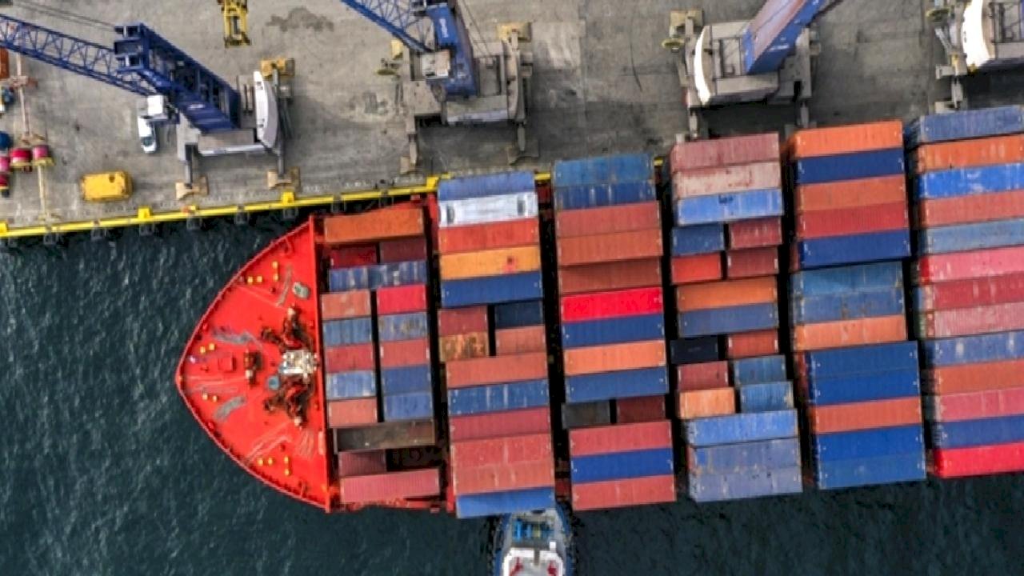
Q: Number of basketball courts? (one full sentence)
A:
I count no basketball courts.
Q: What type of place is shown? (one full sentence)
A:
The area seen from above is a port.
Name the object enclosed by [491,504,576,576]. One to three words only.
boat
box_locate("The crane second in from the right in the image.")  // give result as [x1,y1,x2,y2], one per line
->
[662,0,858,144]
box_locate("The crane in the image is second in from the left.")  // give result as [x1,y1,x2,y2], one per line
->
[341,0,536,172]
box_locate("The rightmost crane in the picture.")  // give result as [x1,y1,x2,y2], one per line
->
[926,0,1024,112]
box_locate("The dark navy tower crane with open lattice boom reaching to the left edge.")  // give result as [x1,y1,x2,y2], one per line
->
[0,0,298,196]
